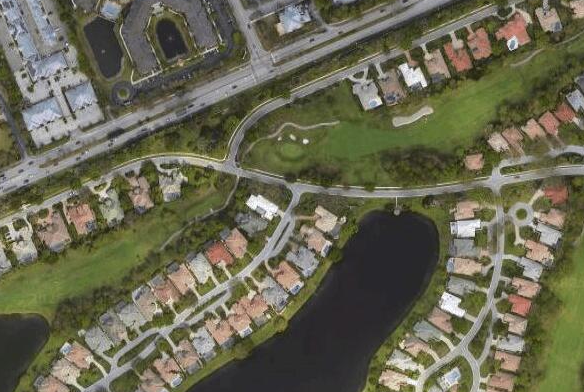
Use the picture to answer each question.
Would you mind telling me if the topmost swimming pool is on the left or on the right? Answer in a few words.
left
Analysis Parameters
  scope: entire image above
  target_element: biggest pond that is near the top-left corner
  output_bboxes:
[84,16,124,78]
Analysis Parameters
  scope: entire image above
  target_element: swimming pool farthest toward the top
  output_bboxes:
[100,1,122,21]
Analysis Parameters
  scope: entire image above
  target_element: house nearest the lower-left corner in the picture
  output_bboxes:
[30,373,65,392]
